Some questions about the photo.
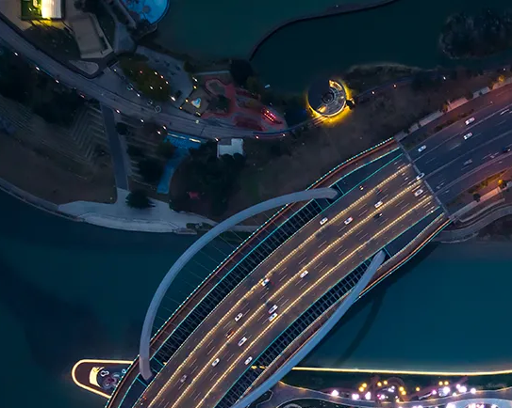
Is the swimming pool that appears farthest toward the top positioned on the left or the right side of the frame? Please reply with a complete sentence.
The swimming pool that appears farthest toward the top sits on the left side.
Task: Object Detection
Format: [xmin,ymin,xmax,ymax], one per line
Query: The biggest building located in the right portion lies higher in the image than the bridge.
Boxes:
[307,78,348,118]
